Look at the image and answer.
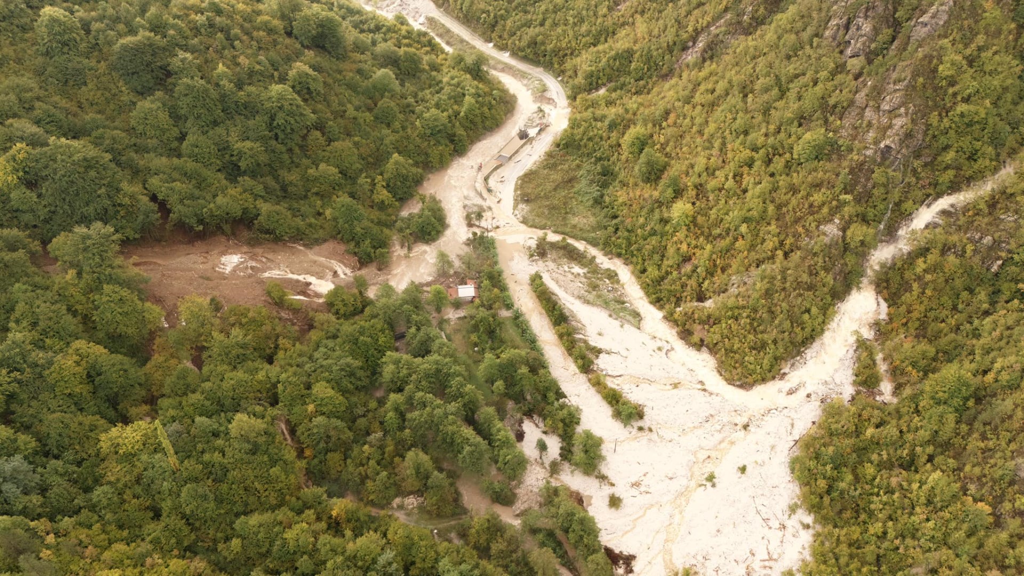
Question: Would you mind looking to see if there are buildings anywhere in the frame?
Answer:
Yes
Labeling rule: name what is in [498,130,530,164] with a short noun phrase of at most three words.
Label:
building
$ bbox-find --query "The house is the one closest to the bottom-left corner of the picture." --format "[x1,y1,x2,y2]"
[446,278,478,300]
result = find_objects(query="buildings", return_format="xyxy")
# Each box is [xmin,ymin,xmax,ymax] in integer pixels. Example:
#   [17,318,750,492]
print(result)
[498,130,530,164]
[446,278,478,300]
